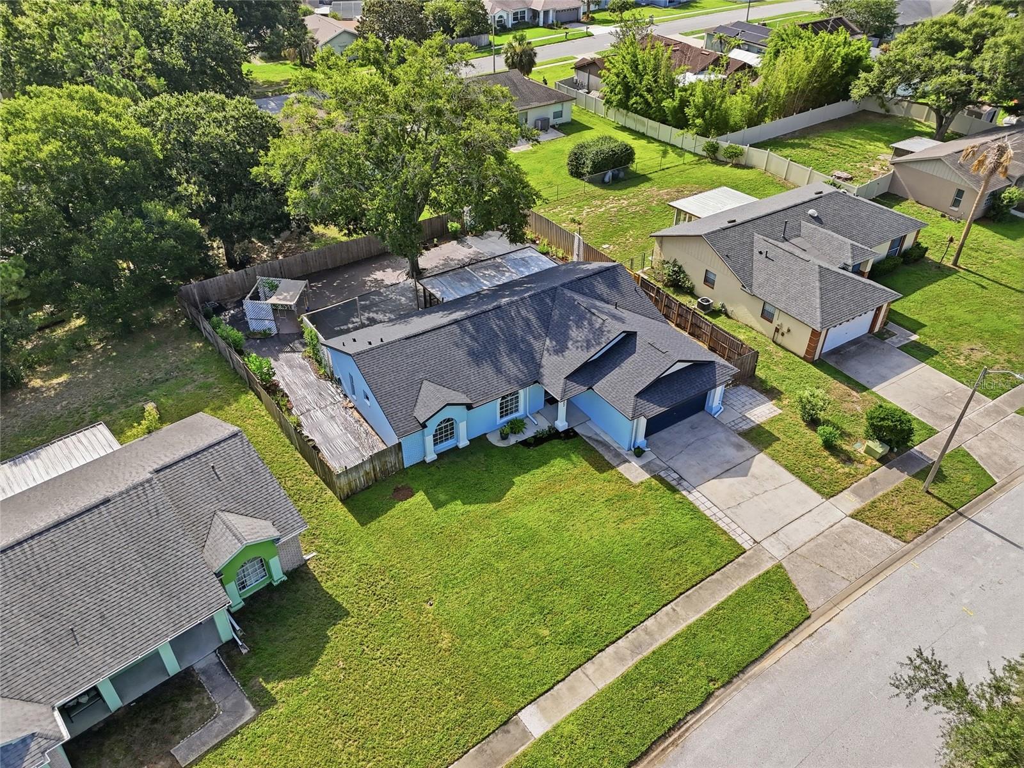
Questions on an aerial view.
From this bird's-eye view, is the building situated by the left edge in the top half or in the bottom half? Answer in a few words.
bottom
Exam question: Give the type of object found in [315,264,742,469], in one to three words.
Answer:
house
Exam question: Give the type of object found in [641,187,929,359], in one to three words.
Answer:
house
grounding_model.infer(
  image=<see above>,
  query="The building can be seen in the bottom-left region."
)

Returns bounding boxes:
[0,412,317,768]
